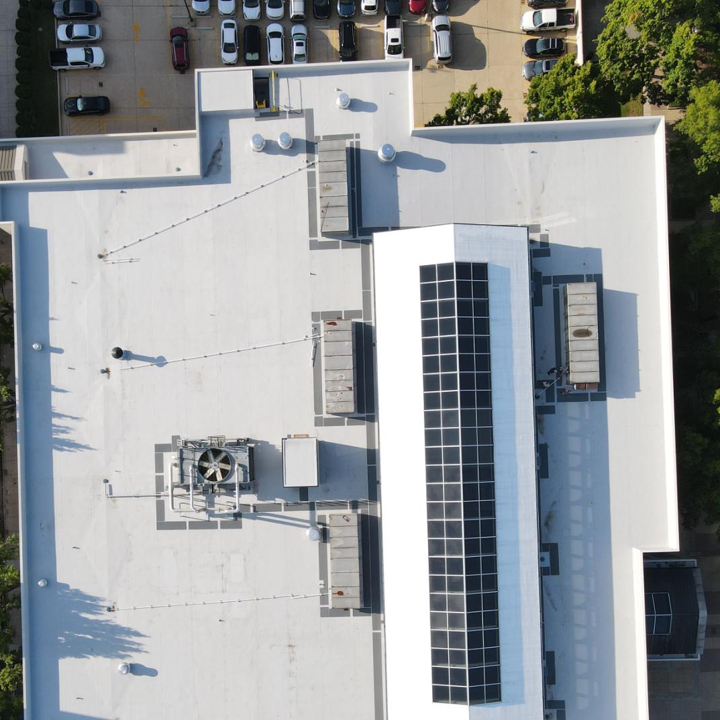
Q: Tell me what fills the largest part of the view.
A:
buildings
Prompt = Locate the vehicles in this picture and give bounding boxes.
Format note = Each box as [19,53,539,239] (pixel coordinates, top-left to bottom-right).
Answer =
[263,23,287,66]
[288,0,305,23]
[409,0,428,16]
[524,36,566,61]
[336,0,358,18]
[59,20,102,45]
[67,94,110,118]
[336,20,359,62]
[288,25,310,65]
[431,0,450,14]
[311,0,334,20]
[521,58,567,83]
[430,17,454,65]
[520,7,577,35]
[168,28,191,76]
[50,44,104,72]
[263,0,287,18]
[240,21,263,67]
[193,0,211,15]
[361,0,379,16]
[383,14,407,60]
[218,18,240,66]
[216,0,237,16]
[525,0,572,12]
[240,0,262,21]
[57,0,99,22]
